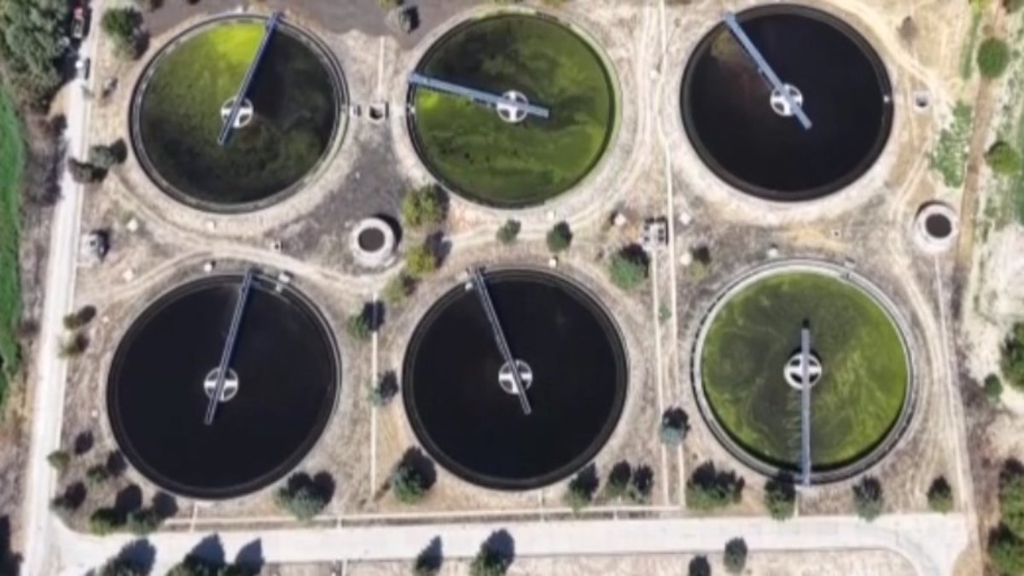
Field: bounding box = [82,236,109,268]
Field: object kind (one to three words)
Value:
shed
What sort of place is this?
industrial area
